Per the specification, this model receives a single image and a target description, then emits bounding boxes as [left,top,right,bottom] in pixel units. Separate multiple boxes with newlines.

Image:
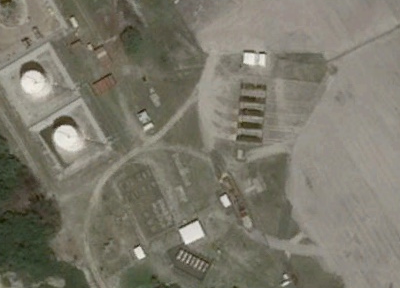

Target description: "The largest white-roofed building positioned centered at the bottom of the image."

[178,220,205,246]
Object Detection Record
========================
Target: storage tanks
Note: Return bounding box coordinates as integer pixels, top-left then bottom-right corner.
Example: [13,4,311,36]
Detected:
[53,124,84,155]
[20,70,52,101]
